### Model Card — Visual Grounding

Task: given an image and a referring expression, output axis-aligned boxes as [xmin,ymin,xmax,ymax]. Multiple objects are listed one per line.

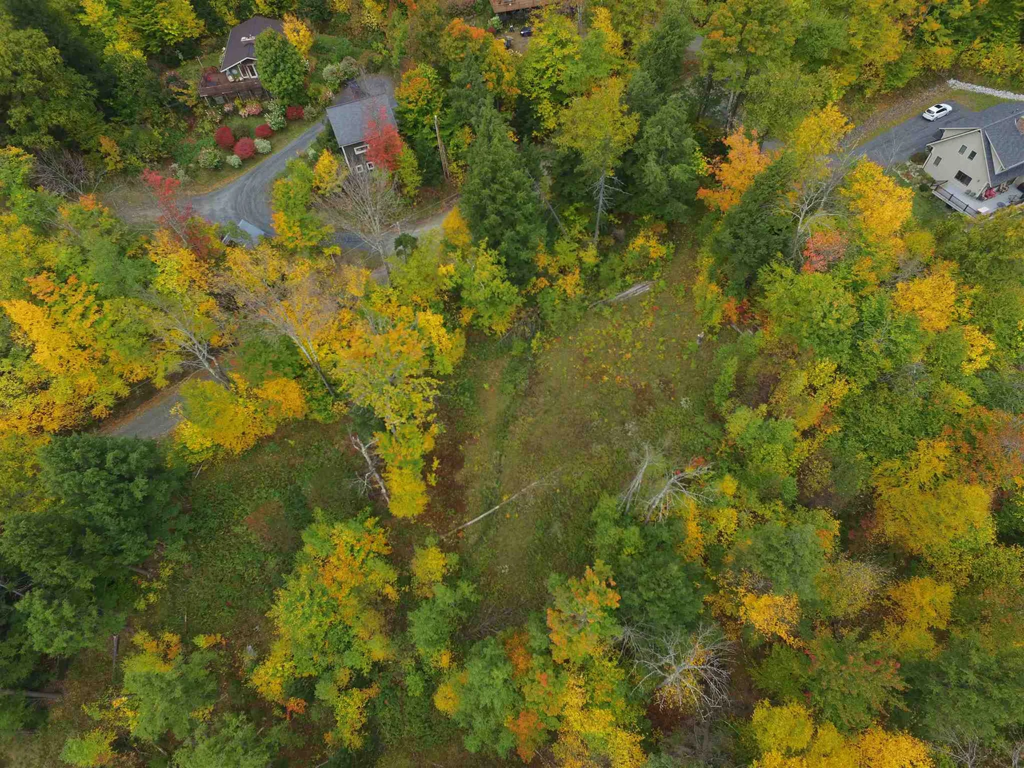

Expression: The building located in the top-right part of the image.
[919,94,1024,202]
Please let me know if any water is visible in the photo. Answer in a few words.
No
